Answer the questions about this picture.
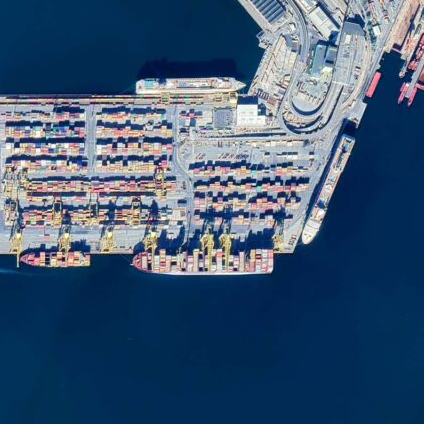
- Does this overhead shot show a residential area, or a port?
port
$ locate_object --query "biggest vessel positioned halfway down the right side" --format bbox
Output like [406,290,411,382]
[304,136,352,243]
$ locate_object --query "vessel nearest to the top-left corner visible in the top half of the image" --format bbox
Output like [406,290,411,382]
[135,75,245,93]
